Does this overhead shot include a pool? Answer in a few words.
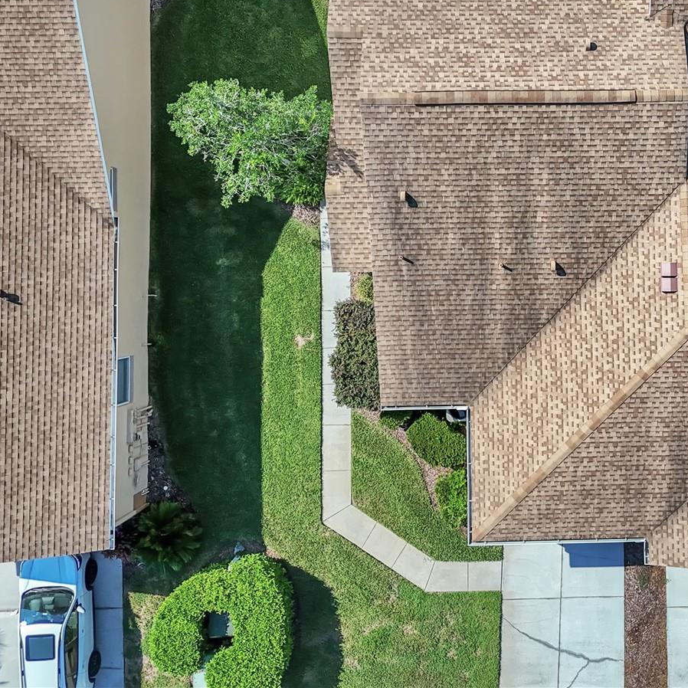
No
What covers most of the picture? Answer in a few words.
buildings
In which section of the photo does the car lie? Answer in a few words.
bottom left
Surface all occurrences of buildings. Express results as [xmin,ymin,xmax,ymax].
[0,0,156,562]
[323,0,688,560]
